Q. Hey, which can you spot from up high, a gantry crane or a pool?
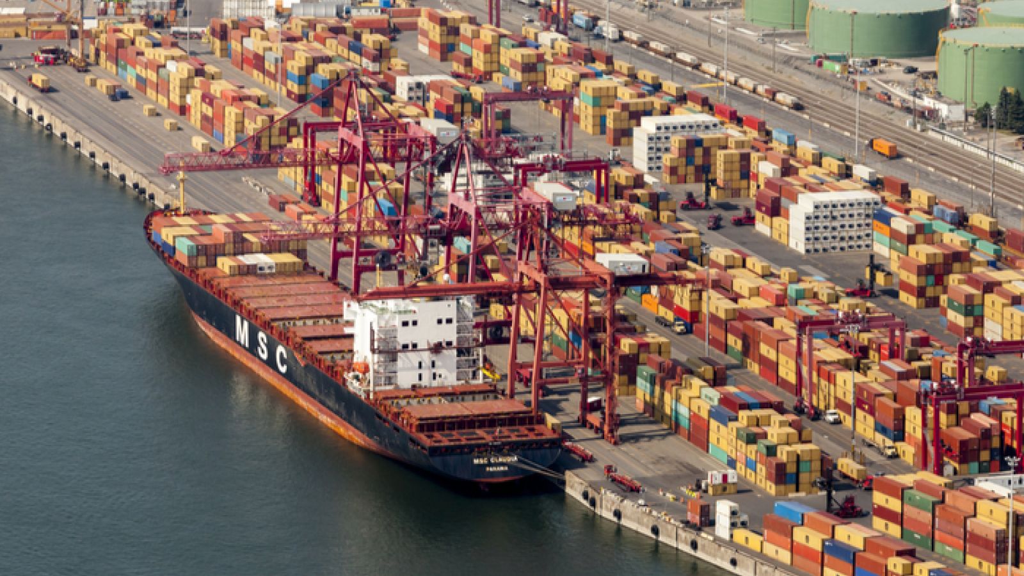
gantry crane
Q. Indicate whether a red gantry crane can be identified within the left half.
Yes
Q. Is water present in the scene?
Yes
